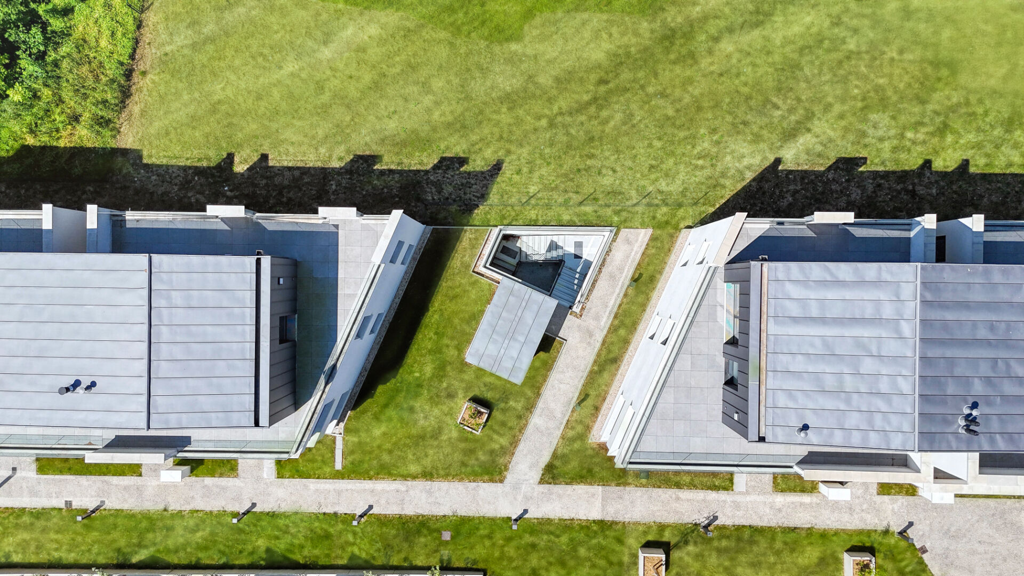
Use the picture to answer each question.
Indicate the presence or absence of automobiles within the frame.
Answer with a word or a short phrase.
No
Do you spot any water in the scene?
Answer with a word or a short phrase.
No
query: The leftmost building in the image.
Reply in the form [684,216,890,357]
[0,204,426,463]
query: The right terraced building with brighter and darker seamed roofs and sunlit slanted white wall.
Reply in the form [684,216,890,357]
[599,212,1024,495]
